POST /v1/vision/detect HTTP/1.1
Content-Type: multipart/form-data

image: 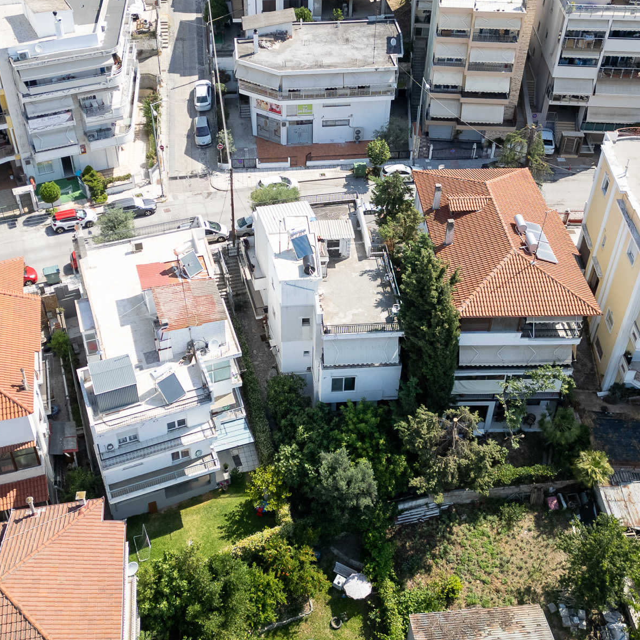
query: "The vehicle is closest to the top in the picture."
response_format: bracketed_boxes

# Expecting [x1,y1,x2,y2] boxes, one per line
[192,86,212,111]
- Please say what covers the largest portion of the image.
buildings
